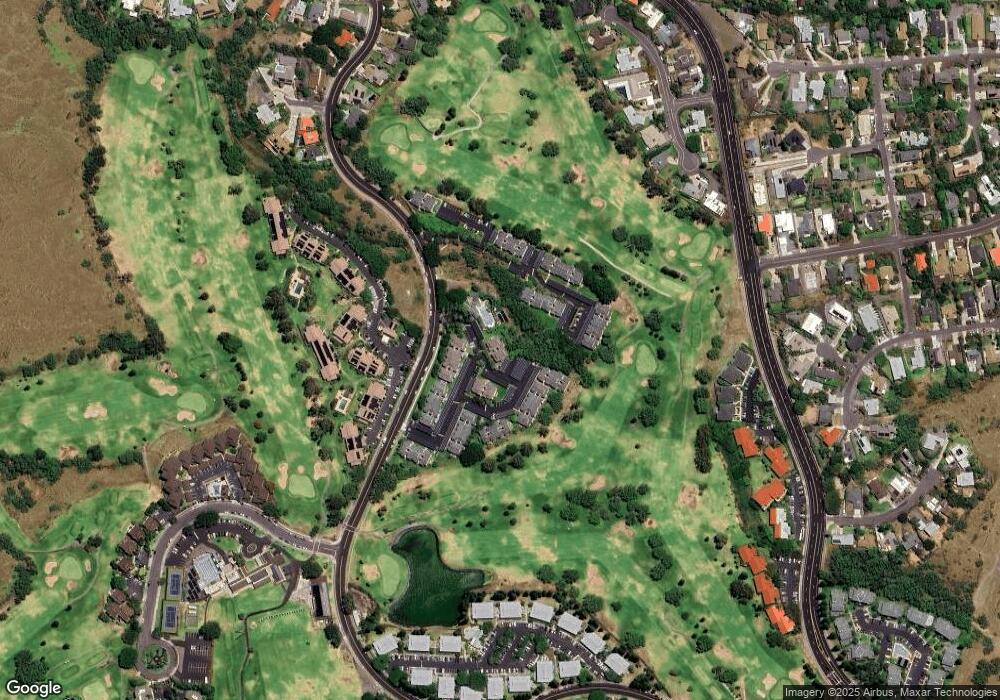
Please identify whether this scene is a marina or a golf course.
golf course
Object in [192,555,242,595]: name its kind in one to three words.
building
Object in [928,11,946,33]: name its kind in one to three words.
house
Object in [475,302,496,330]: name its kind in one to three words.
swimming pool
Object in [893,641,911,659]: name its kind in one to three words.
swimming pool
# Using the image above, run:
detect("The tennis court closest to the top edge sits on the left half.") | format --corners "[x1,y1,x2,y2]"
[167,566,185,600]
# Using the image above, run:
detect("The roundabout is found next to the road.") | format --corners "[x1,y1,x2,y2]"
[136,638,179,680]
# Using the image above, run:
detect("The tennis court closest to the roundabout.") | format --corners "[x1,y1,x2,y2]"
[163,599,181,634]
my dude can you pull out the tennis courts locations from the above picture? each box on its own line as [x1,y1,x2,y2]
[167,566,185,600]
[163,599,181,634]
